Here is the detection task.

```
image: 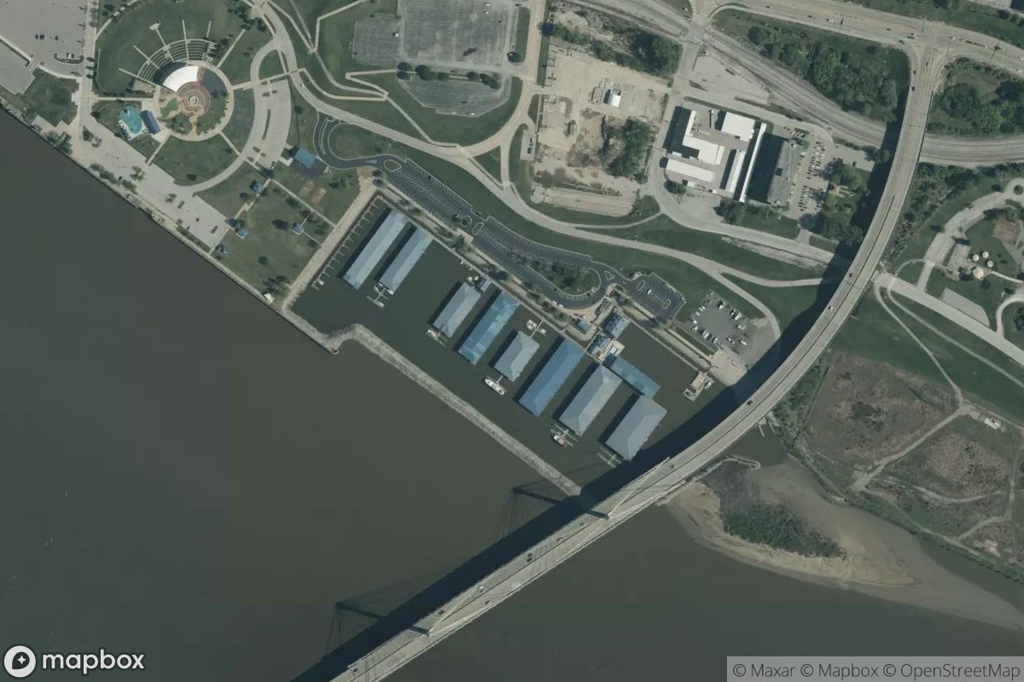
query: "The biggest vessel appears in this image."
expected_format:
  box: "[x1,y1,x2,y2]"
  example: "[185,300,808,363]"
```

[684,371,714,402]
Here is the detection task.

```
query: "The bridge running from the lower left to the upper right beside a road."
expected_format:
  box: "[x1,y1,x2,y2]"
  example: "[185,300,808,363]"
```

[331,45,952,682]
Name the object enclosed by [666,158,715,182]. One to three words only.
building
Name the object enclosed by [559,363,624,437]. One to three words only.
building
